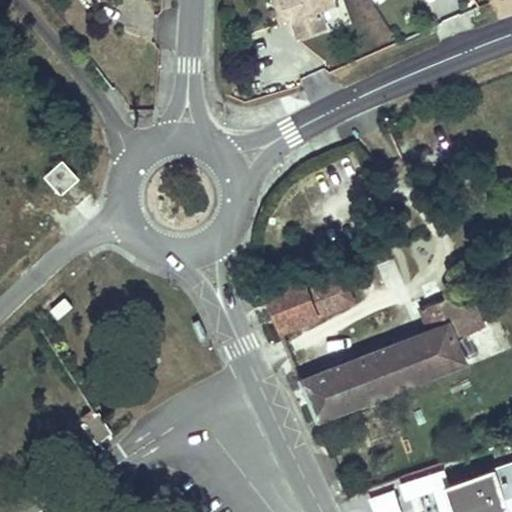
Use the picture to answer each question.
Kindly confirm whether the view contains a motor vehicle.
Yes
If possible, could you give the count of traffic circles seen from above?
one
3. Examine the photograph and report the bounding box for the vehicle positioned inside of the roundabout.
[166,254,184,272]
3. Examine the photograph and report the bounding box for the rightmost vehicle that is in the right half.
[462,338,476,358]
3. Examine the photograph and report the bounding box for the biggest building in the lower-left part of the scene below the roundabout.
[80,412,112,444]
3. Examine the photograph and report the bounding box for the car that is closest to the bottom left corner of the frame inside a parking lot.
[180,478,197,494]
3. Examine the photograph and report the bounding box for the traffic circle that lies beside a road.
[98,121,283,284]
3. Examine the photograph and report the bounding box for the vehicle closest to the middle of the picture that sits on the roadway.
[224,288,236,308]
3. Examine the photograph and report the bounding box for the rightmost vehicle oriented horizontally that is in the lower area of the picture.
[328,339,352,352]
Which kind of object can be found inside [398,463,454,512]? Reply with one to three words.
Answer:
building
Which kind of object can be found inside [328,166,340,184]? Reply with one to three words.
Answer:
vehicle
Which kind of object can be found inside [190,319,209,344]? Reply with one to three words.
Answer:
vehicle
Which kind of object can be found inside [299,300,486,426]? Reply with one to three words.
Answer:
house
